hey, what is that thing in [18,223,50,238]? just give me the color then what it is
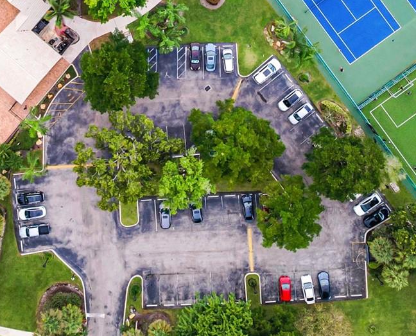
white vehicle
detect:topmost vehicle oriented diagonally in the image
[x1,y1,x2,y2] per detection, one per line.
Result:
[253,59,281,83]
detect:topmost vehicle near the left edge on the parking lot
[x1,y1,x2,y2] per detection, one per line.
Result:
[17,192,45,205]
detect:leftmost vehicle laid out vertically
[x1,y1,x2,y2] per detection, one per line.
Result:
[158,201,171,229]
